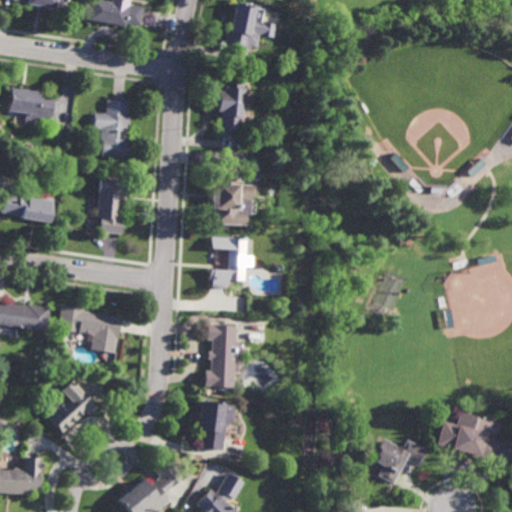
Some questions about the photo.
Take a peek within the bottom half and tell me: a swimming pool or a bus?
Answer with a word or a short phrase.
swimming pool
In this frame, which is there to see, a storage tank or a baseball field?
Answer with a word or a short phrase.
baseball field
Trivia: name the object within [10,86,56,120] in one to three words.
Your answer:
house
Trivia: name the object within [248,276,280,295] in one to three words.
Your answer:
swimming pool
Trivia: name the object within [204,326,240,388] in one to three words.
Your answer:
house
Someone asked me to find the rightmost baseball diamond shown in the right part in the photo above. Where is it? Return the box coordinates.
[444,250,512,338]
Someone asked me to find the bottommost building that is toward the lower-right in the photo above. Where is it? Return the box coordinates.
[376,436,428,488]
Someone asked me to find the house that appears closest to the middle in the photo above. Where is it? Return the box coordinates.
[212,235,256,288]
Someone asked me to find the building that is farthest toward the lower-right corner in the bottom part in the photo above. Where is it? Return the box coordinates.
[438,410,498,459]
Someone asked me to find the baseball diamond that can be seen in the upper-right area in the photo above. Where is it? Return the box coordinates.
[348,46,512,190]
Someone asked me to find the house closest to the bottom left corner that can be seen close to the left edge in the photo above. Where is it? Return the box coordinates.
[0,453,44,496]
